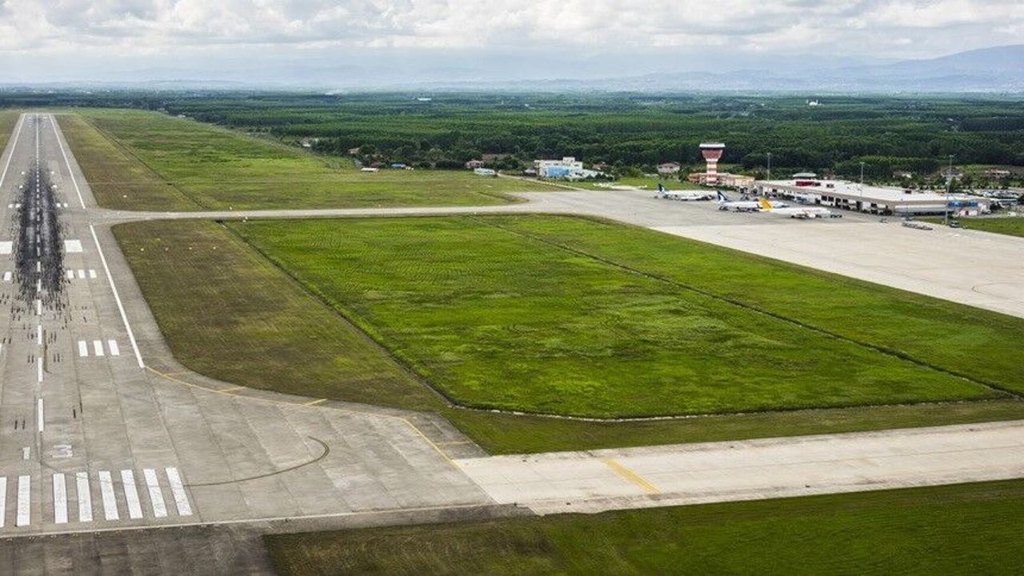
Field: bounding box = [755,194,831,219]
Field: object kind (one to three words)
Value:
airplane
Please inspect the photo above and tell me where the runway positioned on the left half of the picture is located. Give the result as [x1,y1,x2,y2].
[0,114,502,540]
